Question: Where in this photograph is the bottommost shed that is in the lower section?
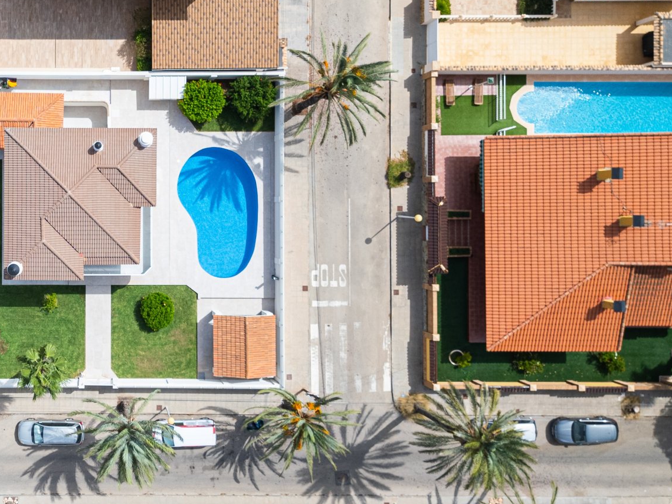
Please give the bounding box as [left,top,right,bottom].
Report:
[198,306,277,380]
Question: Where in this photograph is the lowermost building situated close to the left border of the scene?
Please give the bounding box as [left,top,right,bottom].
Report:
[1,125,158,285]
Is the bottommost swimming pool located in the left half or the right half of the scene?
left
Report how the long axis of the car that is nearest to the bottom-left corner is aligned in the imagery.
from left to right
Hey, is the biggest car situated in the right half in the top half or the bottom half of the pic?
bottom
